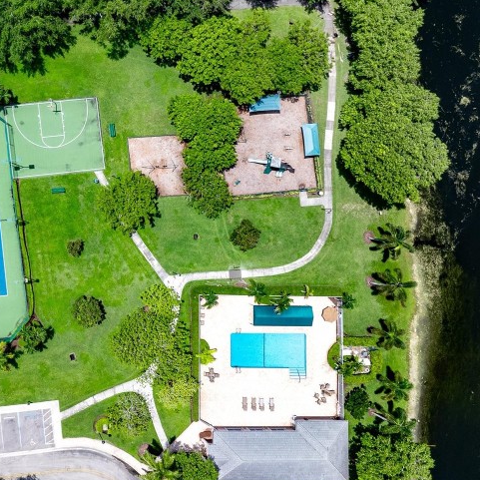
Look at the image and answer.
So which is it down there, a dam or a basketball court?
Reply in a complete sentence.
It is a basketball court that can be seen here.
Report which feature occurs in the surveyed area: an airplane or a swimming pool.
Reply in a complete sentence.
Visible in the photo is a swimming pool.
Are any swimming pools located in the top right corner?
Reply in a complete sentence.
No, I can find no swimming pool in the top right corner.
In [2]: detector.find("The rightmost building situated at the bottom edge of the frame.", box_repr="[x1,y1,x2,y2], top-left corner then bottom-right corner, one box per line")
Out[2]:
[207,416,348,480]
